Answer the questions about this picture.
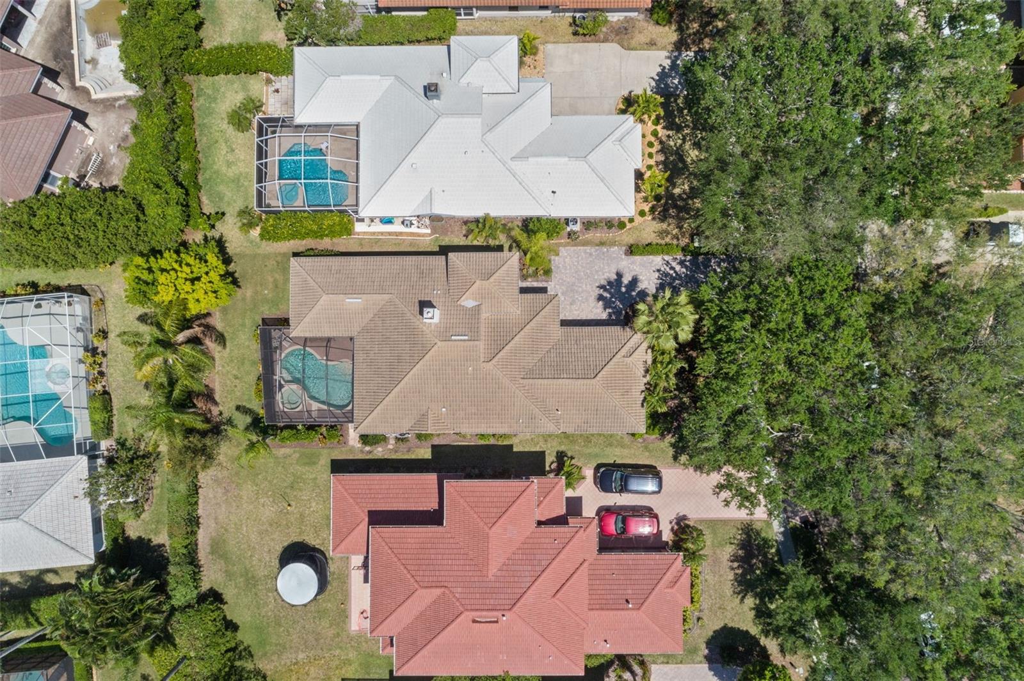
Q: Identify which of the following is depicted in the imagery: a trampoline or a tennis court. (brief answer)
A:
trampoline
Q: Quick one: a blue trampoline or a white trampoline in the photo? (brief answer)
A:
white trampoline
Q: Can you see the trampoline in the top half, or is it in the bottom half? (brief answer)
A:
bottom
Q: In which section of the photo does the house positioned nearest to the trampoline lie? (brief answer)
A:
bottom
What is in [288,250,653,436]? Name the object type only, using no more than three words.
house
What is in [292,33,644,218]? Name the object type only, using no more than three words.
house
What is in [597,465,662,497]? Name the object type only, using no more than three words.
car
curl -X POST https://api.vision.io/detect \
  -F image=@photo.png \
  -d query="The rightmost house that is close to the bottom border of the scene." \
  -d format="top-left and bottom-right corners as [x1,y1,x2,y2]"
[329,472,693,678]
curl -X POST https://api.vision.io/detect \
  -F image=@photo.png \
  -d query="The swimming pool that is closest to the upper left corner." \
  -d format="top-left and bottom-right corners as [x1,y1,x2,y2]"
[69,0,150,100]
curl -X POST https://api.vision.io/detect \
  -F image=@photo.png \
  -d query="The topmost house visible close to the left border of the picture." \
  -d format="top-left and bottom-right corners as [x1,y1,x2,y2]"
[0,0,87,202]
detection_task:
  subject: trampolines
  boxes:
[276,550,330,605]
